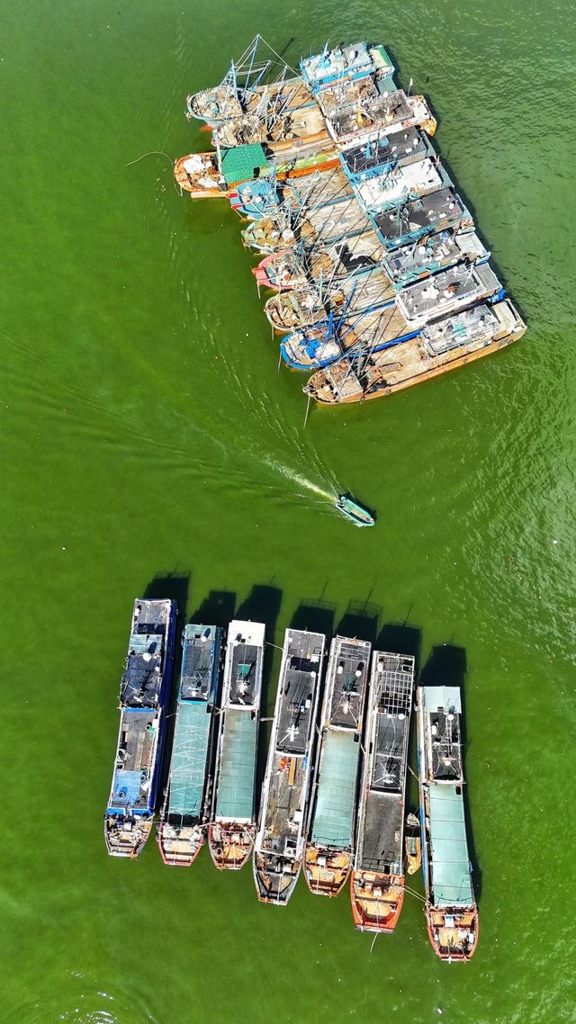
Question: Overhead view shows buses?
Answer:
No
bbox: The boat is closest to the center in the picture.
[334,492,373,525]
